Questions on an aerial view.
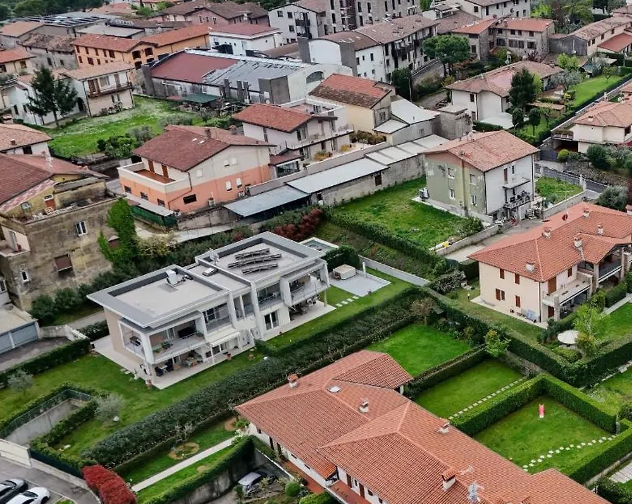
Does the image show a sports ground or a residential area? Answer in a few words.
residential area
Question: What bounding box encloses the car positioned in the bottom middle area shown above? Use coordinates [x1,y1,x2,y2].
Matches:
[230,466,280,502]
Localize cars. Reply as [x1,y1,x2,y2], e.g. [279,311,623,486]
[6,491,50,504]
[230,466,280,502]
[0,478,30,504]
